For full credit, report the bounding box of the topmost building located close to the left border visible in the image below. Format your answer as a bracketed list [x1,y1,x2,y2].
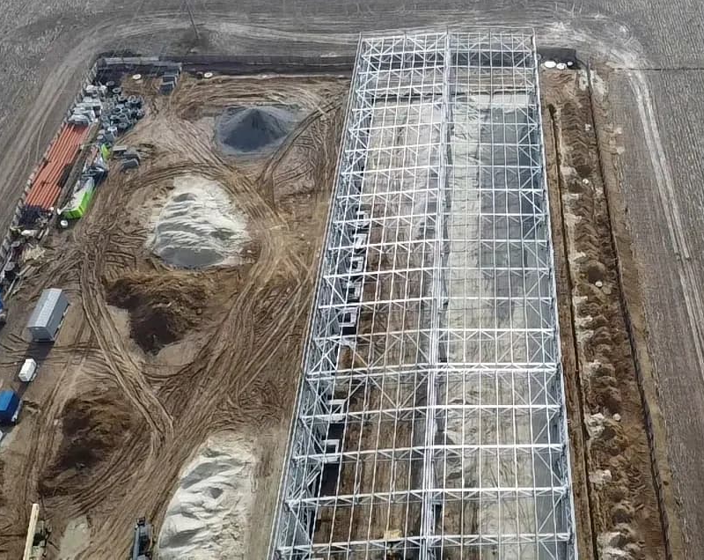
[25,290,68,342]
